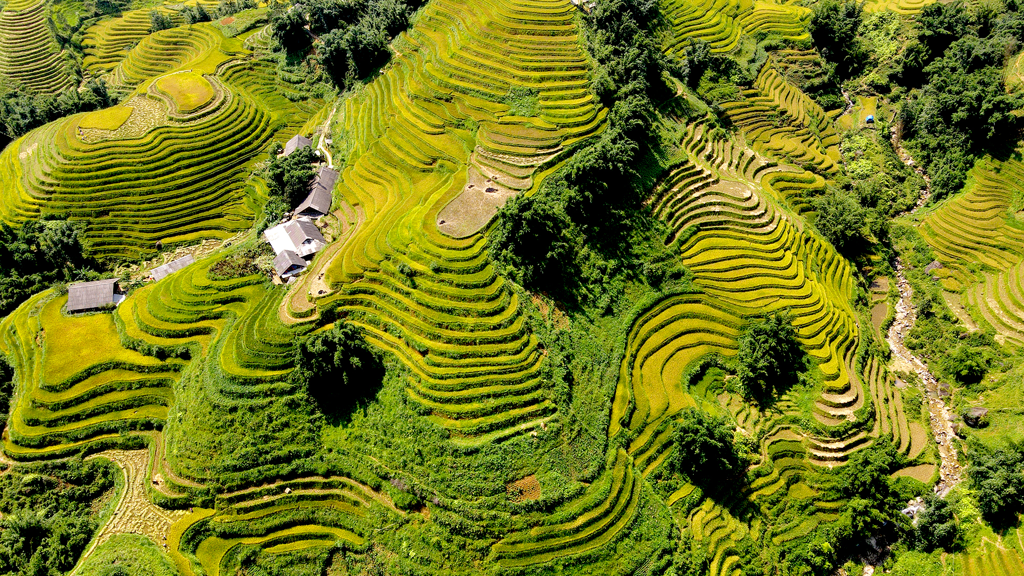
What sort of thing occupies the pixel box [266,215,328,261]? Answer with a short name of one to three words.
house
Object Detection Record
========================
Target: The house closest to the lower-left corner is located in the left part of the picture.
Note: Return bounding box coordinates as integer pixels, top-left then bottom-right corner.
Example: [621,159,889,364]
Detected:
[67,278,125,315]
